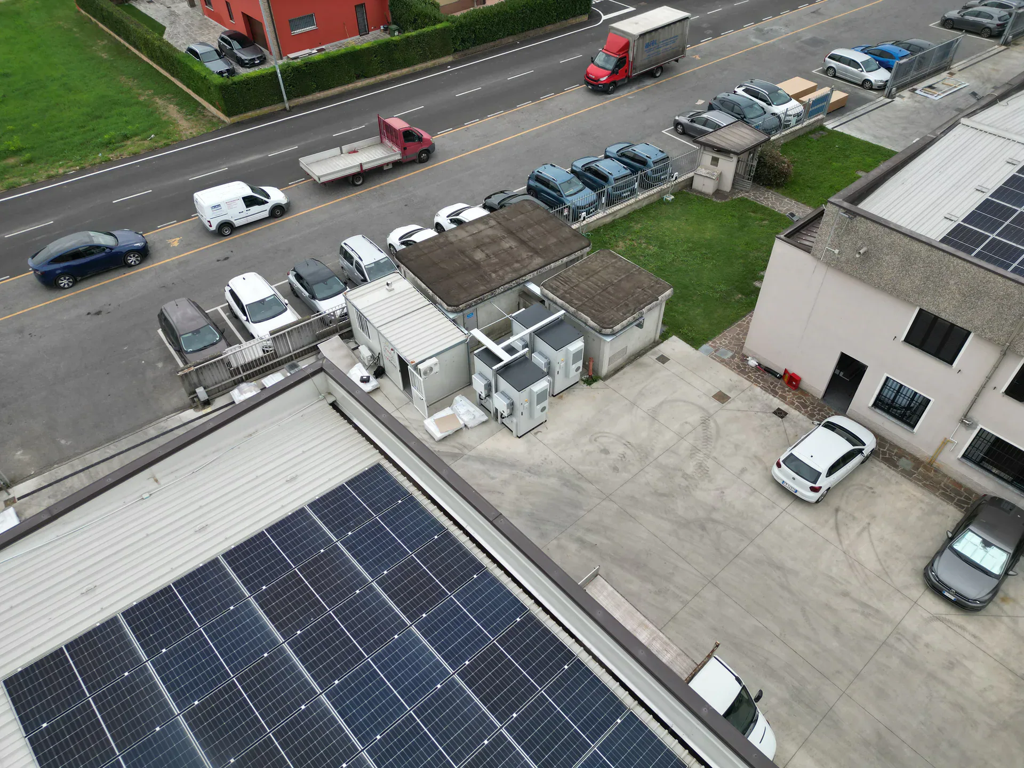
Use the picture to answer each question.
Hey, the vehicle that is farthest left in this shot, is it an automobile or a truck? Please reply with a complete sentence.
Looking closely, the vehicle that is farthest left is an automobile.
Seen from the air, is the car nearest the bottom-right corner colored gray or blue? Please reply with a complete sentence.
In this view, the car nearest the bottom-right corner is gray.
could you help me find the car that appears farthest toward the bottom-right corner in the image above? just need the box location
[921,486,1024,610]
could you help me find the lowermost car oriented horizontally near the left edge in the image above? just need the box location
[24,230,145,291]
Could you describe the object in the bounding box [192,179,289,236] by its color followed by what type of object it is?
white van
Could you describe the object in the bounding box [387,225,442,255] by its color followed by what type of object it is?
white car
